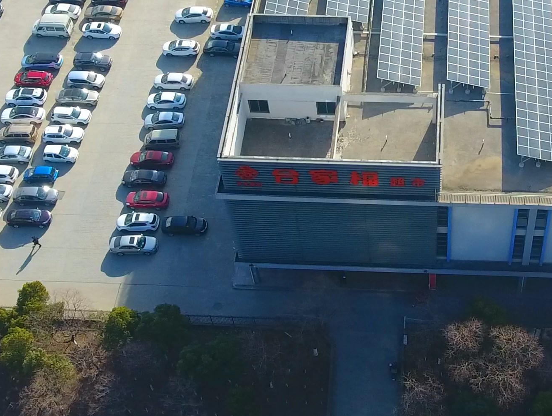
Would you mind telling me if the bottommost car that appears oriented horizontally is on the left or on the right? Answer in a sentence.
It is on the left.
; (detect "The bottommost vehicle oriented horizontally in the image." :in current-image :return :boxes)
[110,232,160,255]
